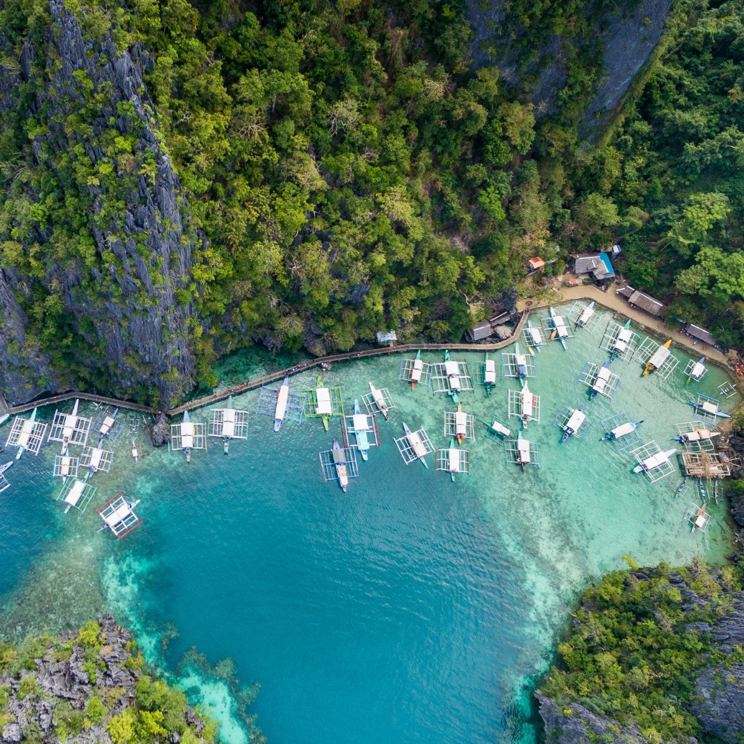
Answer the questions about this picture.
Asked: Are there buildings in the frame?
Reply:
Yes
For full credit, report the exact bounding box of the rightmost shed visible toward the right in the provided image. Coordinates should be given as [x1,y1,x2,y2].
[683,322,714,347]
